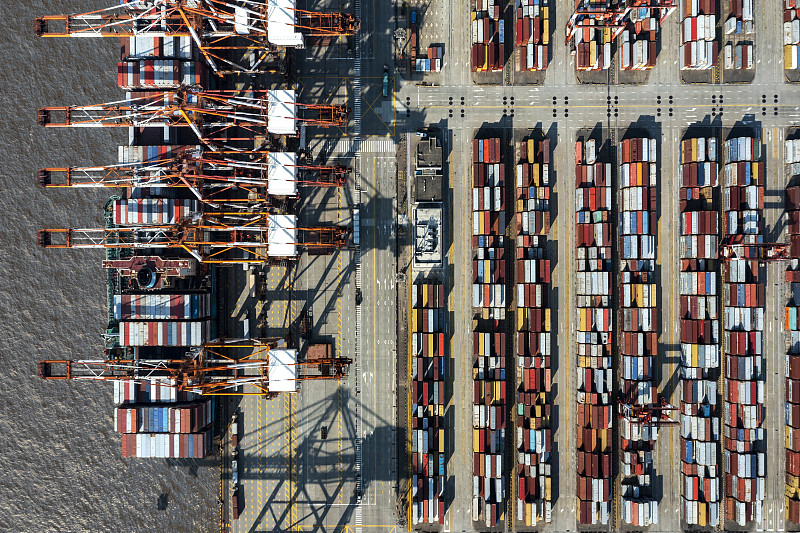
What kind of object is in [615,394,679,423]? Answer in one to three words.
container crane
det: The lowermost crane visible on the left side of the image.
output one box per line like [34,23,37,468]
[37,326,352,400]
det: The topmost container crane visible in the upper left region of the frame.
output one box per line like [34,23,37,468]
[36,0,351,91]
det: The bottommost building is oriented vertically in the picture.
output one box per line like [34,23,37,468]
[412,202,443,269]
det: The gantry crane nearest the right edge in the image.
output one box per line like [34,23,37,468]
[720,238,795,261]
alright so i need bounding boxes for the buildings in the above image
[416,135,442,171]
[412,202,443,269]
